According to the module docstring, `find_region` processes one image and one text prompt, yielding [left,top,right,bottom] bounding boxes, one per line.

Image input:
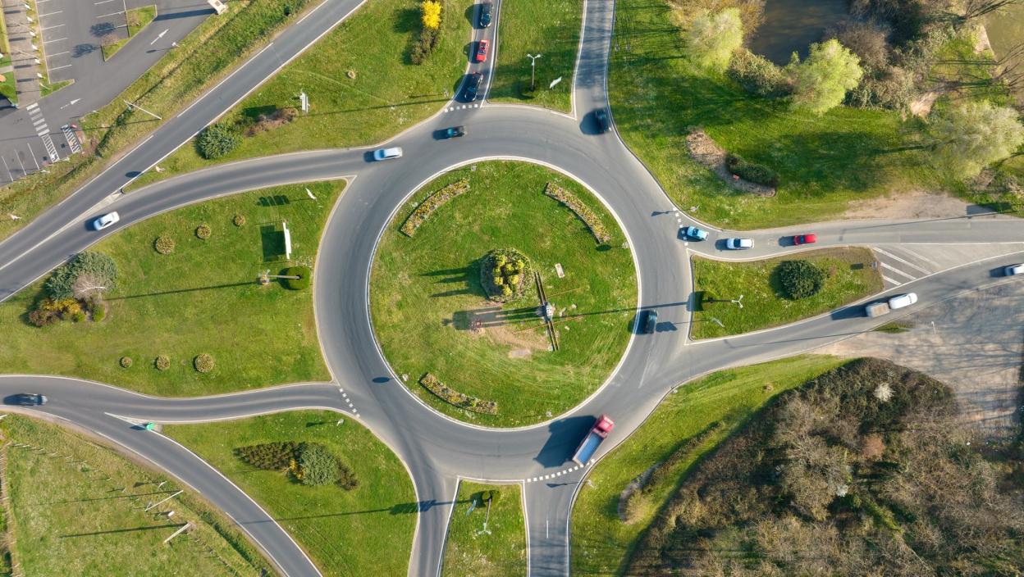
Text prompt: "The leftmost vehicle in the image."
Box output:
[19,392,49,407]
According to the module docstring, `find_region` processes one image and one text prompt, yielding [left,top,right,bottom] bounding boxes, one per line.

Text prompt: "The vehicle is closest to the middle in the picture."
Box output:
[643,308,658,334]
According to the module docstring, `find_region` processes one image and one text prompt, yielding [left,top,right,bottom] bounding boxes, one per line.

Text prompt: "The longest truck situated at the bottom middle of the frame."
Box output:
[571,413,617,470]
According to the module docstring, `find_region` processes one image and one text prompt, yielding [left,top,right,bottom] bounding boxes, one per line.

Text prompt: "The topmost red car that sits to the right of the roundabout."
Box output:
[791,233,818,247]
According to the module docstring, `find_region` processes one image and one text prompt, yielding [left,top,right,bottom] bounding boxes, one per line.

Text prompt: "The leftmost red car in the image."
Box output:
[476,38,489,64]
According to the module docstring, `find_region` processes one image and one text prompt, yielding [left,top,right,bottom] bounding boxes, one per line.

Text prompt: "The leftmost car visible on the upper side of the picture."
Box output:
[92,209,122,232]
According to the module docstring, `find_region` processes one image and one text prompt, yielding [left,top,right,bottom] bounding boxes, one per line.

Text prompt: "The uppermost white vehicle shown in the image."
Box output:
[374,146,404,161]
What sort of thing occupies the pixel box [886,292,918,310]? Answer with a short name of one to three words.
car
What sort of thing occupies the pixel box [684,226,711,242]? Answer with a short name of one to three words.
car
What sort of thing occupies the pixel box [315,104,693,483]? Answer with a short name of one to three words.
roundabout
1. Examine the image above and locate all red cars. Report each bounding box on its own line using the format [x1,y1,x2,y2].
[791,233,818,247]
[476,38,489,64]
